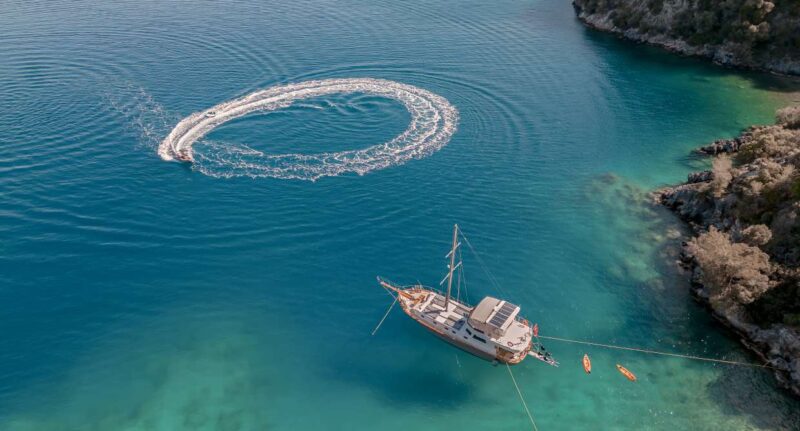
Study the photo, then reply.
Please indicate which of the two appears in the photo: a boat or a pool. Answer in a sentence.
There is a boat in the scene.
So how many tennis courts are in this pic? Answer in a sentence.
I count no tennis courts.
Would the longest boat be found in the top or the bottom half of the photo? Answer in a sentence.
You can find the longest boat in the bottom half.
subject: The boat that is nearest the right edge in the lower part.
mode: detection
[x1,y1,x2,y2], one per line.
[616,362,638,381]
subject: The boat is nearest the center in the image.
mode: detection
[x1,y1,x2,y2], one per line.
[376,225,561,369]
